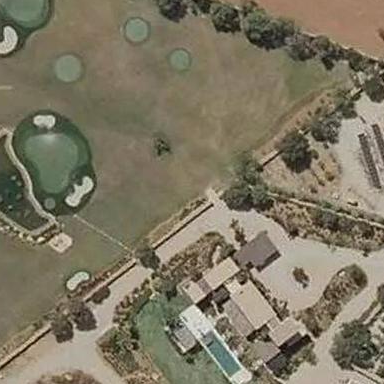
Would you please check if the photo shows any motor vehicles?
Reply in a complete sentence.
No, there is no motor vehicle in the image.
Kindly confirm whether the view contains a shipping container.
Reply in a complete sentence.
No, there is no shipping container in the image.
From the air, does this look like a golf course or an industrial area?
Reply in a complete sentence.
This looks like a golf course.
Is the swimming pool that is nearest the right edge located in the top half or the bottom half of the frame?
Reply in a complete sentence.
Seen from above, the swimming pool that is nearest the right edge lies in the bottom half of the view.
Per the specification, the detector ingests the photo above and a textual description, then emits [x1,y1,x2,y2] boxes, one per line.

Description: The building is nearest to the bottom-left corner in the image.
[167,326,198,353]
